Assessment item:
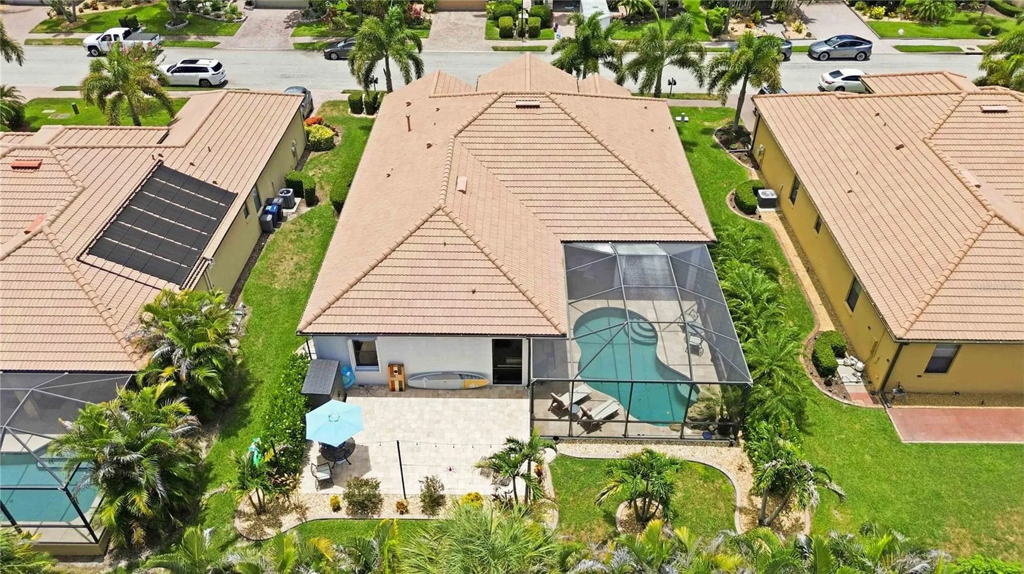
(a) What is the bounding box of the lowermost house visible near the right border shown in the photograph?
[738,72,1024,407]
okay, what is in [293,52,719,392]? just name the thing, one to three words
house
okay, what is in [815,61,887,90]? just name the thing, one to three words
car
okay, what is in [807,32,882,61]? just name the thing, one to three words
car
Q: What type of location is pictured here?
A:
residential area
